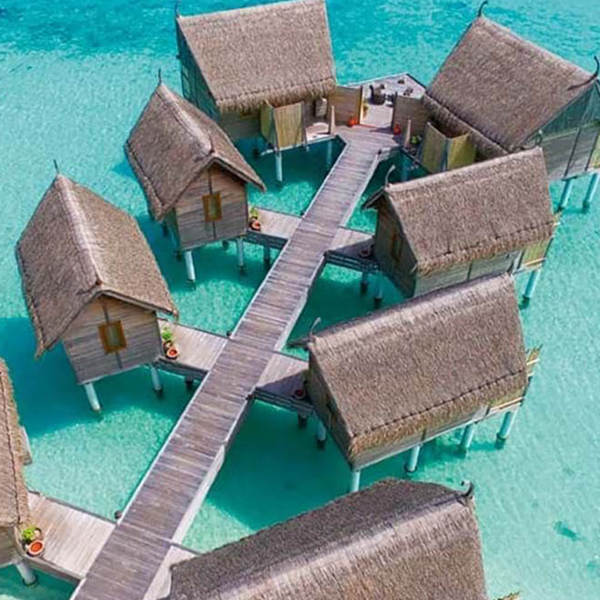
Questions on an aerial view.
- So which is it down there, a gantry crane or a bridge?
bridge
